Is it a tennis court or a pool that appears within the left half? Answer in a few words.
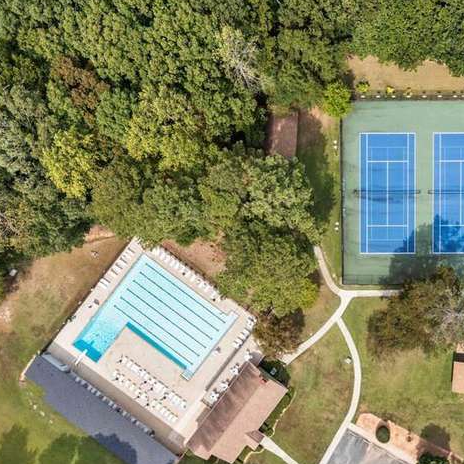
pool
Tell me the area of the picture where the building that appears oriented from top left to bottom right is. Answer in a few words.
bottom left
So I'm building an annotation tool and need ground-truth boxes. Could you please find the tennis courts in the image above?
[341,99,425,284]
[424,99,464,284]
